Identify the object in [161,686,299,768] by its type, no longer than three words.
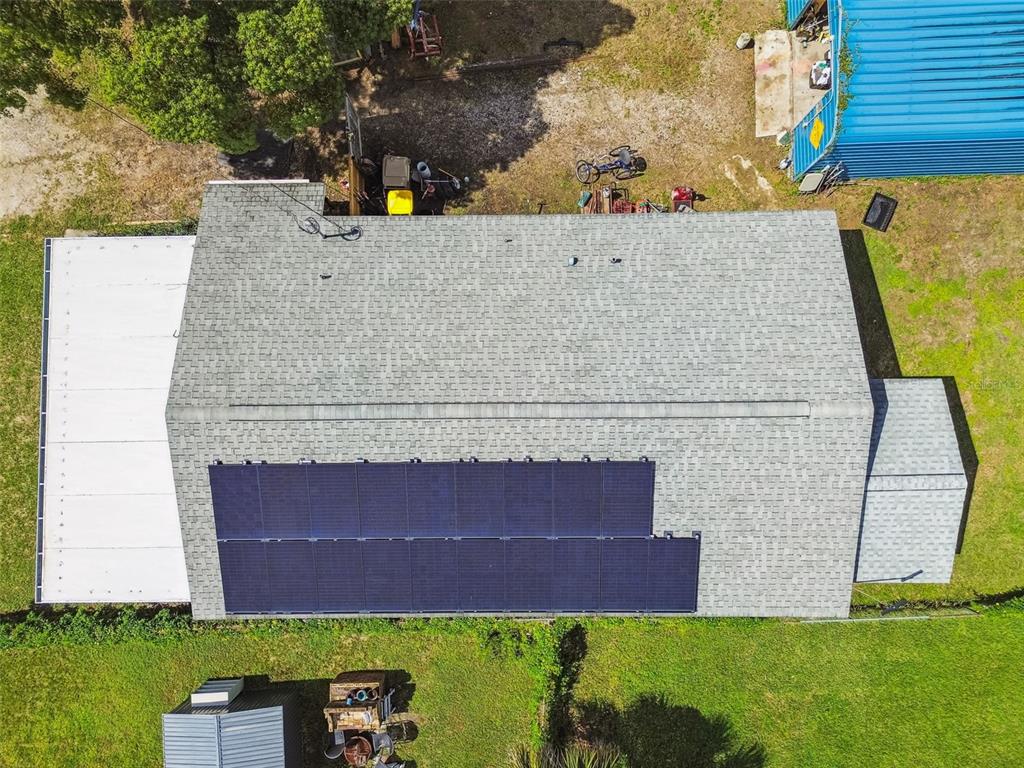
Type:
shed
